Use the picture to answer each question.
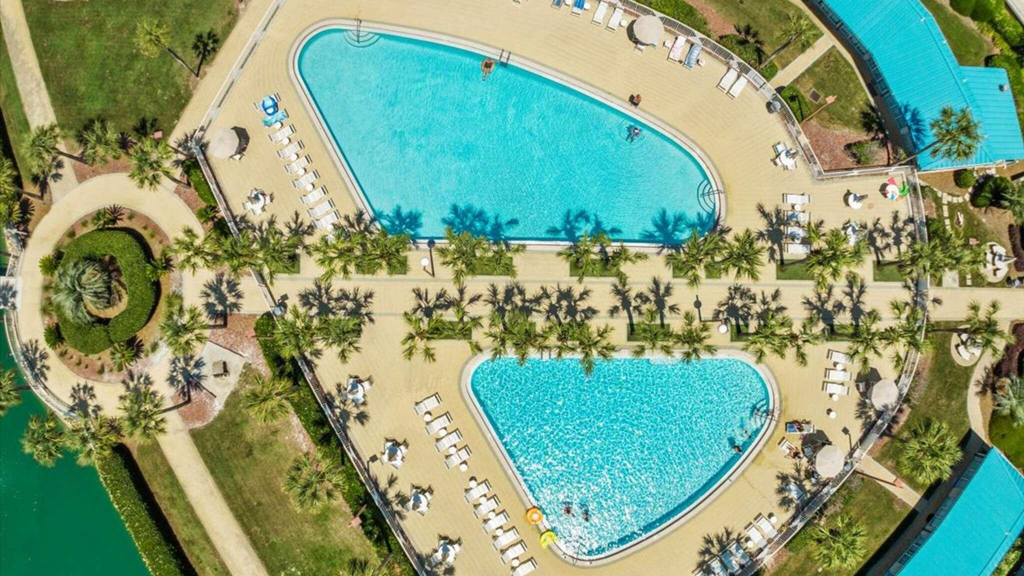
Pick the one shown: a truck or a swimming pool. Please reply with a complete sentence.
The one in the frame is a swimming pool.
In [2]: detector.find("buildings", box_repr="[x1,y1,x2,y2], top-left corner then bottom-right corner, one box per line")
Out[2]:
[880,446,1024,576]
[802,0,1024,171]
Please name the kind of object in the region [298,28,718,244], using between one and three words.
swimming pool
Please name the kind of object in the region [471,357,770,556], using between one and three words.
swimming pool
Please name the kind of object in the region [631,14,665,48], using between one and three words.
umbrella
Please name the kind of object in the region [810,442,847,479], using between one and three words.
umbrella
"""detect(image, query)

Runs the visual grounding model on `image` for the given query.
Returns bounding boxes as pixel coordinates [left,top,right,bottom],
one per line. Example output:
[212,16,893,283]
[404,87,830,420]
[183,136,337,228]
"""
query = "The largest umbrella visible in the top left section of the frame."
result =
[207,127,243,163]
